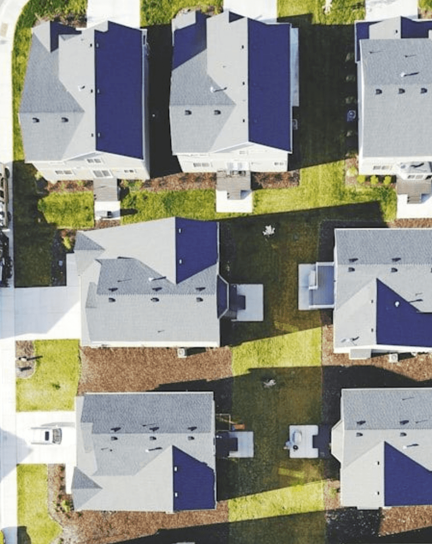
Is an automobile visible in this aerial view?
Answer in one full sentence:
Yes, looking at the shot, I can spot an automobile.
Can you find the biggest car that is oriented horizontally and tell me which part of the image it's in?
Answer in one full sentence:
The biggest car that is oriented horizontally appears toward the bottom left of the photo.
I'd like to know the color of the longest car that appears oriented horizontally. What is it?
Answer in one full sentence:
The color of the longest car that appears oriented horizontally is white.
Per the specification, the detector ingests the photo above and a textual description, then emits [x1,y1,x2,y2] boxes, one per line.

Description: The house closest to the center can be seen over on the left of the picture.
[74,216,230,350]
